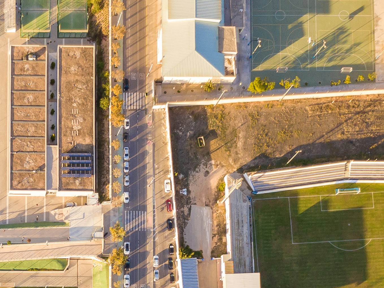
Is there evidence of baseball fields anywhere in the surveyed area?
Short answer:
No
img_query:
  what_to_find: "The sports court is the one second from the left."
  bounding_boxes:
[58,0,88,35]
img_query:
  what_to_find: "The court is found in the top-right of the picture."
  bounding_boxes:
[249,0,375,88]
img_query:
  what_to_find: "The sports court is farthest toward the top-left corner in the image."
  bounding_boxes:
[22,0,51,35]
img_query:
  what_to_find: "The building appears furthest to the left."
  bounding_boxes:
[9,45,46,195]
